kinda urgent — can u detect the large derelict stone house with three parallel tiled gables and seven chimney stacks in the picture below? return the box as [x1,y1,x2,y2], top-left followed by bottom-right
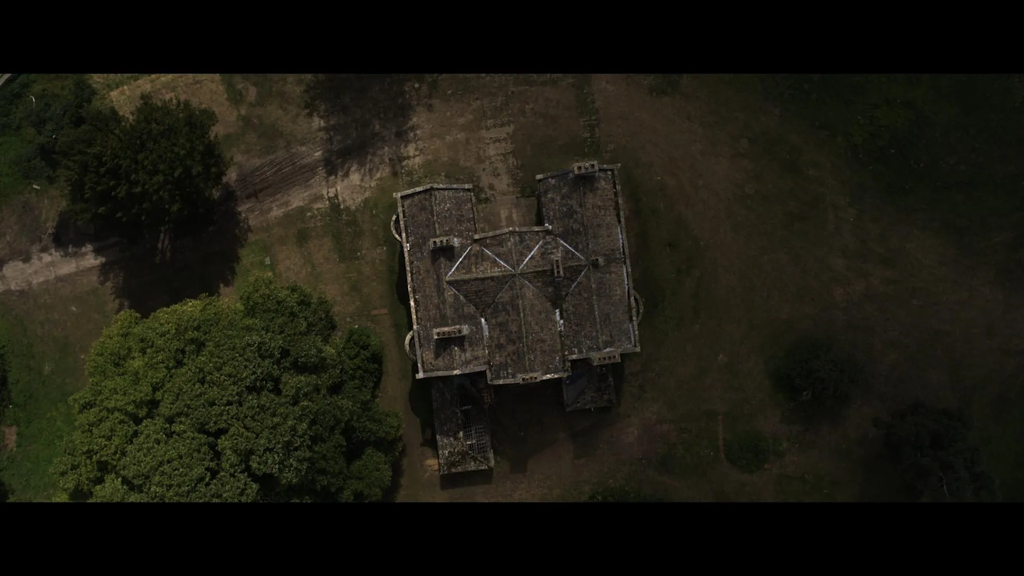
[390,163,645,385]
